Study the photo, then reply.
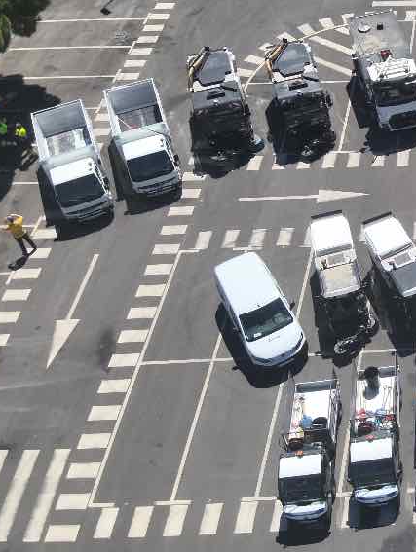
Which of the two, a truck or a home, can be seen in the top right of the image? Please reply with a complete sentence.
What appears in the top right of the image is a truck.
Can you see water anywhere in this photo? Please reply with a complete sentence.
No, the scene doesn't show any water.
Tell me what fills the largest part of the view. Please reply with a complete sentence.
For the most part, this view shows paved ground.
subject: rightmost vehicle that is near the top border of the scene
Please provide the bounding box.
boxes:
[351,8,416,131]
